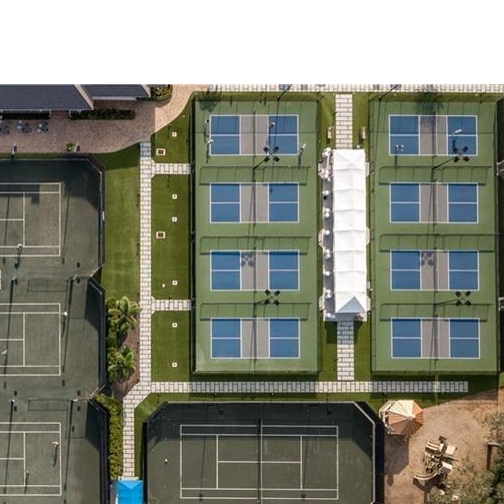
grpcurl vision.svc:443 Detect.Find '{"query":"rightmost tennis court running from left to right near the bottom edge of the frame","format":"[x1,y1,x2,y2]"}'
[147,403,373,504]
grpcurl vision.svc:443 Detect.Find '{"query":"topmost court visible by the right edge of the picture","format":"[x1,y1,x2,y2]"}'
[370,101,497,169]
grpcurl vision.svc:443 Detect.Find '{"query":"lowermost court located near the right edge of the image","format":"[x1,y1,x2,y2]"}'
[370,304,497,371]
